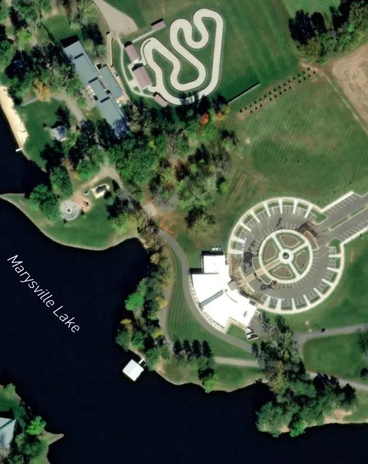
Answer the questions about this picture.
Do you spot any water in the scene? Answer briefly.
Yes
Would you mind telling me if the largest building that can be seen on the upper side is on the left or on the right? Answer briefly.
left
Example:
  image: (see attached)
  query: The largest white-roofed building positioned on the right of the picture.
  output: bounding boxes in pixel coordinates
[192,255,257,329]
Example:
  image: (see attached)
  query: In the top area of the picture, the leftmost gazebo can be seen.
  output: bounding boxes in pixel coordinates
[53,126,65,142]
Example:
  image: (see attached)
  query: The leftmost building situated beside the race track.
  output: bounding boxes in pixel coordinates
[64,41,130,139]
